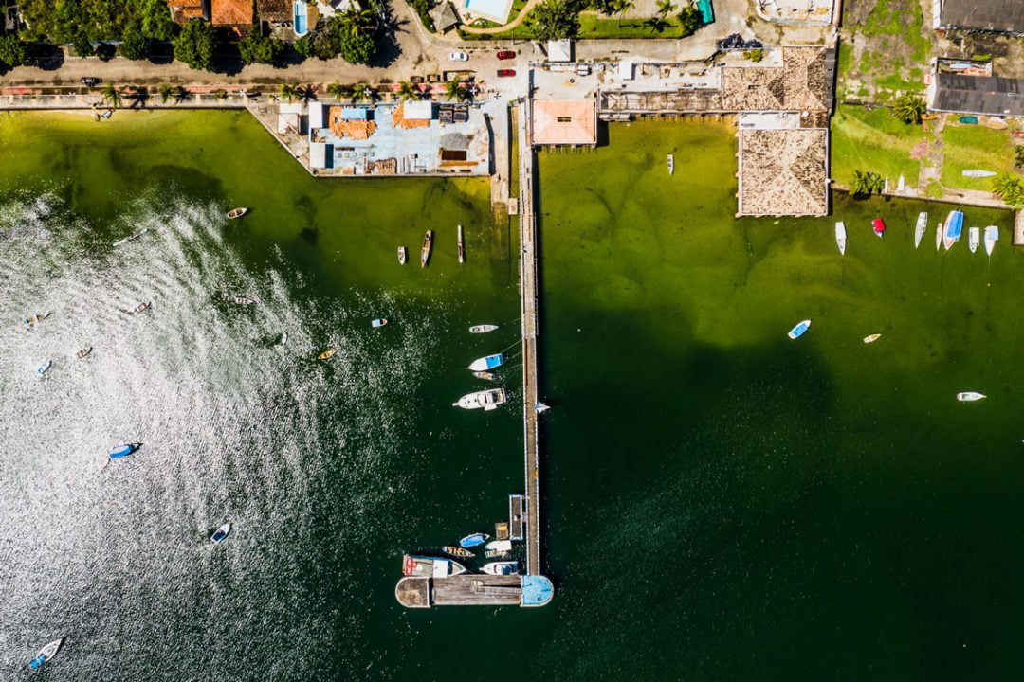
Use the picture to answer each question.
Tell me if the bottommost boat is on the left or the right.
left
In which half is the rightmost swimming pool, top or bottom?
top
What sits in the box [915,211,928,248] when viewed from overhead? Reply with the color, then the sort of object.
white boat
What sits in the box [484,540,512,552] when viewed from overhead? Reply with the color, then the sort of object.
white boat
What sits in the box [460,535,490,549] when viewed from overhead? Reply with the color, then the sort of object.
blue boat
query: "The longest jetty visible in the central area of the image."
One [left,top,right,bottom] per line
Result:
[518,101,540,577]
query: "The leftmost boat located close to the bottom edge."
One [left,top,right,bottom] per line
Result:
[25,638,64,672]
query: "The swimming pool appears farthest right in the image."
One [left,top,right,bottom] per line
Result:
[458,0,507,25]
